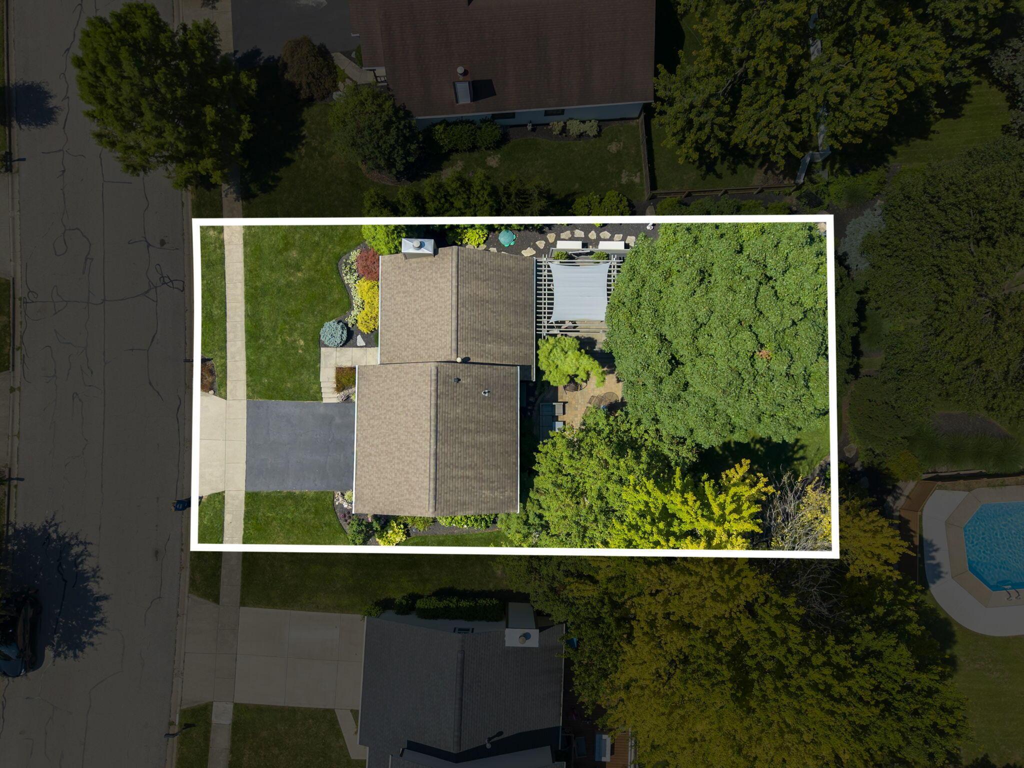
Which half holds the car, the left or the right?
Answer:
left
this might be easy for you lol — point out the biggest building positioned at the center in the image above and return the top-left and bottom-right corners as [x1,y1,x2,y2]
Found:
[351,239,536,518]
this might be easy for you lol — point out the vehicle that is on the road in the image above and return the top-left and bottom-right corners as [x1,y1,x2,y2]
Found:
[0,589,41,670]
